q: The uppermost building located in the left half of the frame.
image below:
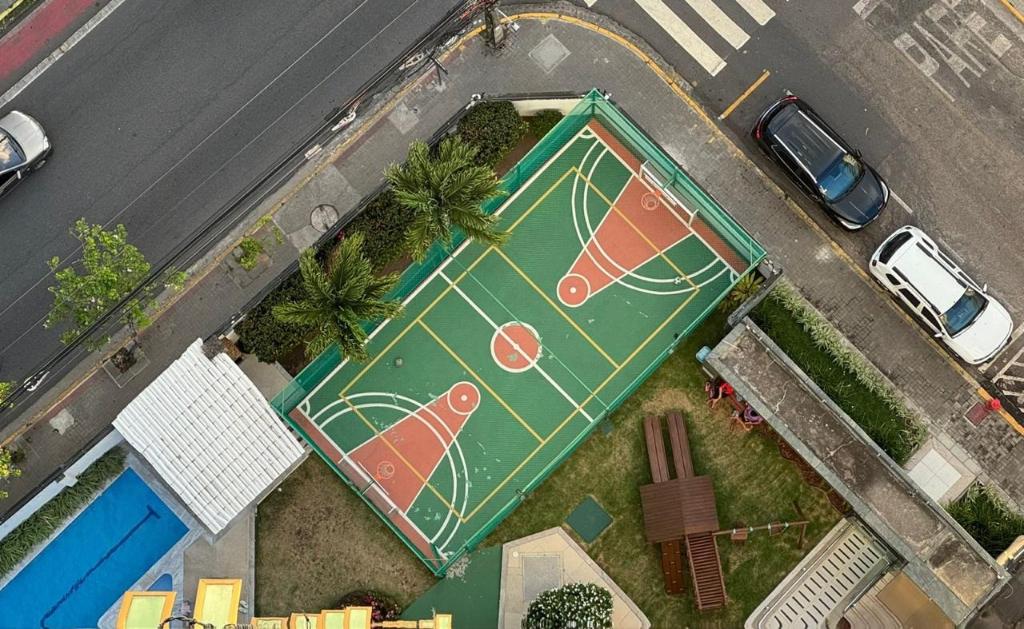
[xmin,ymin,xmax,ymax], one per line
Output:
[113,336,315,537]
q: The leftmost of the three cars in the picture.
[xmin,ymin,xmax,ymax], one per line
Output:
[0,110,50,197]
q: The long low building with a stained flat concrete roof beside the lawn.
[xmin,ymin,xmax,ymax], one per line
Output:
[706,320,1015,629]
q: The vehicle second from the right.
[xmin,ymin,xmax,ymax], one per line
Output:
[753,93,893,235]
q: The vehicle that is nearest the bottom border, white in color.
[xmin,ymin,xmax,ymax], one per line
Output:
[869,220,1017,362]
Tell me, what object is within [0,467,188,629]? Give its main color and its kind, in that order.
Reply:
blue swimming pool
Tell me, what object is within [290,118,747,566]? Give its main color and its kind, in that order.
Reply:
green sports court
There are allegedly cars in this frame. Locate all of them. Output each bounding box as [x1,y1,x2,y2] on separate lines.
[869,220,1017,362]
[0,110,50,197]
[753,93,893,235]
